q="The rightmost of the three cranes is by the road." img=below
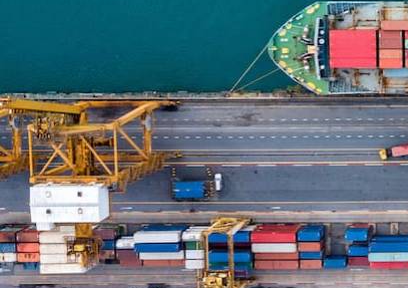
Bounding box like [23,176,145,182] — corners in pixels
[200,218,252,288]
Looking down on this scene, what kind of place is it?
port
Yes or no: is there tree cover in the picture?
No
